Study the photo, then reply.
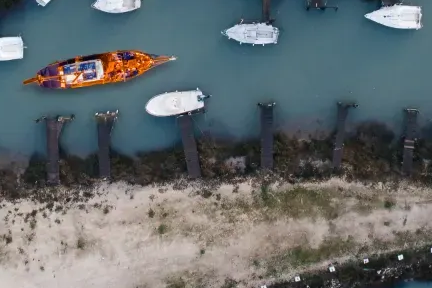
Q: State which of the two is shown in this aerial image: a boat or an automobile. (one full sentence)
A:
I can see a boat in this picture.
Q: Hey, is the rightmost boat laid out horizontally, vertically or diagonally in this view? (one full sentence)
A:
I'd say the rightmost boat is aligned horizontally in the picture.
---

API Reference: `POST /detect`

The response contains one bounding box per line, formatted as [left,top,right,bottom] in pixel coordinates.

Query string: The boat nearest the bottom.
[144,84,211,116]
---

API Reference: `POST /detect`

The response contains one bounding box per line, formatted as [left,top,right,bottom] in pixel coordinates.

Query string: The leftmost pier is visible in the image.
[34,112,77,184]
